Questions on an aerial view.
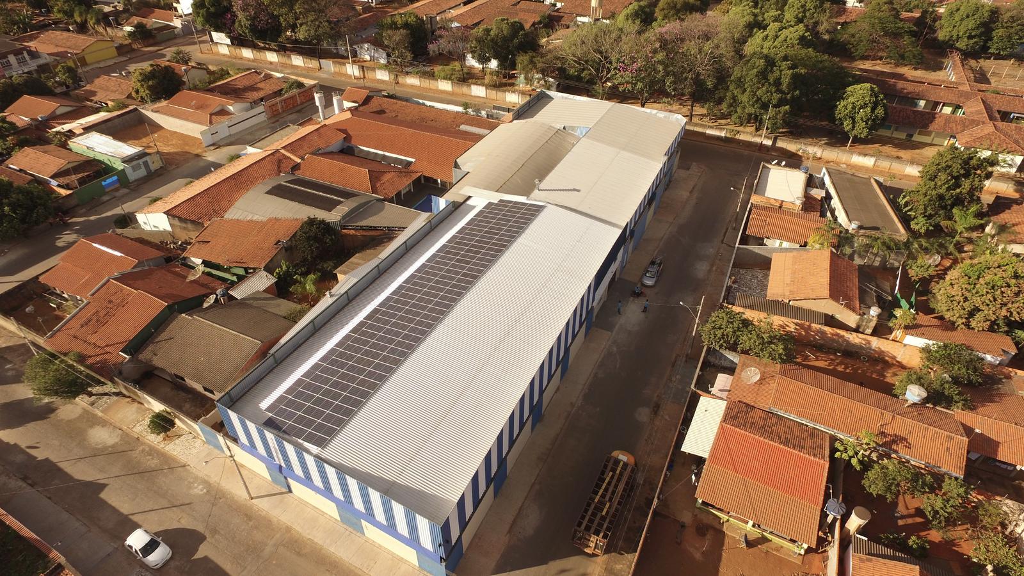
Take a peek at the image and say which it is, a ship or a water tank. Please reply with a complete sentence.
The image shows a water tank.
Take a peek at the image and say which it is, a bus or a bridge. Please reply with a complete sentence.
There is a bus in the scene.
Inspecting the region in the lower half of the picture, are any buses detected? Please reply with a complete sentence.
Yes, in the lower half of the picture there is a bus.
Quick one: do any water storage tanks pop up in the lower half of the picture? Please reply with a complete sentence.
Yes, a water storage tank shows up in the lower half of the picture.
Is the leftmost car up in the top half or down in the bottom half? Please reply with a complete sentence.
It is in the bottom half that the leftmost car appears.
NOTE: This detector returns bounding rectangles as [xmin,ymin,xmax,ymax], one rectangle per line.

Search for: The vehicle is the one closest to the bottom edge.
[117,521,171,570]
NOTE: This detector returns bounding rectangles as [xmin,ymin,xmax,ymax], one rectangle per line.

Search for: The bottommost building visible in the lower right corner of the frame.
[841,534,944,576]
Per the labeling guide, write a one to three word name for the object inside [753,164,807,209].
house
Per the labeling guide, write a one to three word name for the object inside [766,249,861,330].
house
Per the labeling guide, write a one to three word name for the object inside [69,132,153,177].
building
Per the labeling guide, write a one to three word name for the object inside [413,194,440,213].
swimming pool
